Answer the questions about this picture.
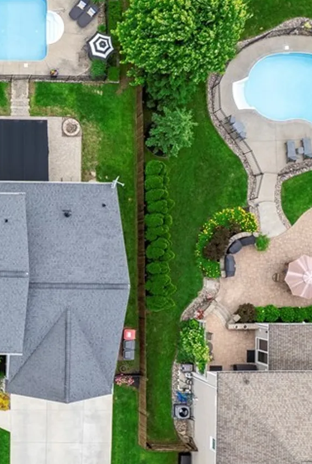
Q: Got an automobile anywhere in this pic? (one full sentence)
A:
No, this view has no automobile in it.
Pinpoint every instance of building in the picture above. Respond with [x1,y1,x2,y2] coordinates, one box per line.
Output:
[0,177,131,403]
[192,322,312,464]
